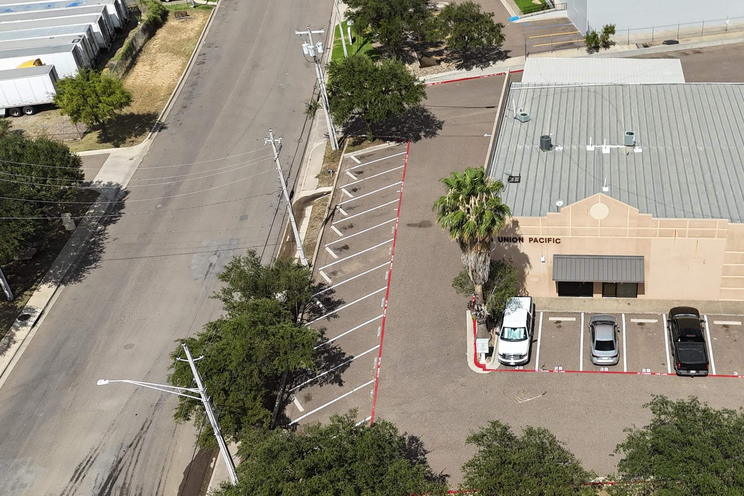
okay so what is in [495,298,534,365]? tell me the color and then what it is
white truck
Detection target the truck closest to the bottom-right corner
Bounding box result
[667,313,706,377]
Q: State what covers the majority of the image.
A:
paved ground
